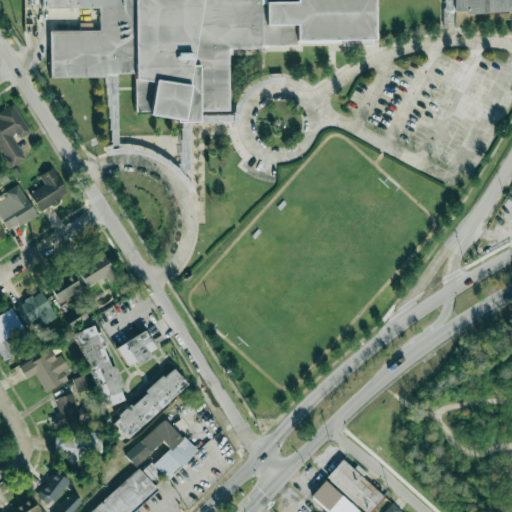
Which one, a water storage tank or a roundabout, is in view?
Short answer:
roundabout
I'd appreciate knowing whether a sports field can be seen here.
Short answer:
Yes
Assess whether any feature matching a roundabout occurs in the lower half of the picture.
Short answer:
No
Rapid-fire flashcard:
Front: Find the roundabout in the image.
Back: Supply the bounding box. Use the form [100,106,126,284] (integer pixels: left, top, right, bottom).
[237,82,322,168]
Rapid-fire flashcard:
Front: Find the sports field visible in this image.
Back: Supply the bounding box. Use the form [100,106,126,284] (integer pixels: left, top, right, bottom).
[189,134,436,393]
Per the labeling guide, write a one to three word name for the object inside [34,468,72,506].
house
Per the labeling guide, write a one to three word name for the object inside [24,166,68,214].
house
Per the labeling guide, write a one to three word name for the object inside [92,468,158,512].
building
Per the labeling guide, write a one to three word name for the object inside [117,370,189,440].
building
